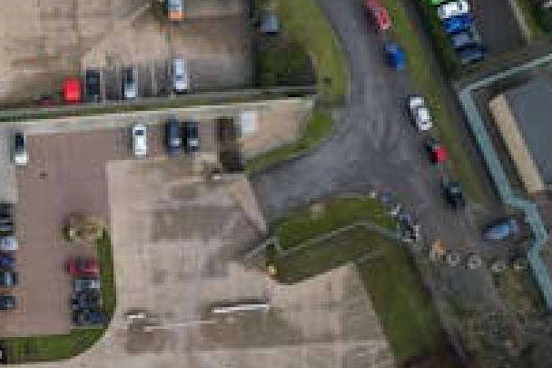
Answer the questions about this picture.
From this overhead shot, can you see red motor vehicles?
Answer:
Yes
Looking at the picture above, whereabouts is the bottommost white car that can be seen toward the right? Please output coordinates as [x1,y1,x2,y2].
[406,97,432,131]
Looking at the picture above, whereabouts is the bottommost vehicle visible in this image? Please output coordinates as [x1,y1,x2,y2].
[73,311,105,325]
